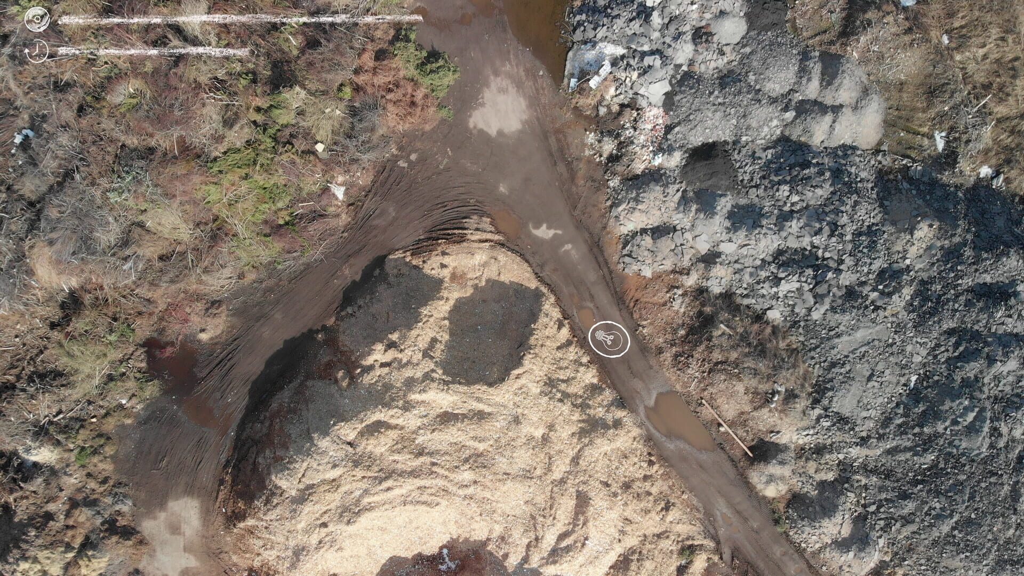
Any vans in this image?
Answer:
No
